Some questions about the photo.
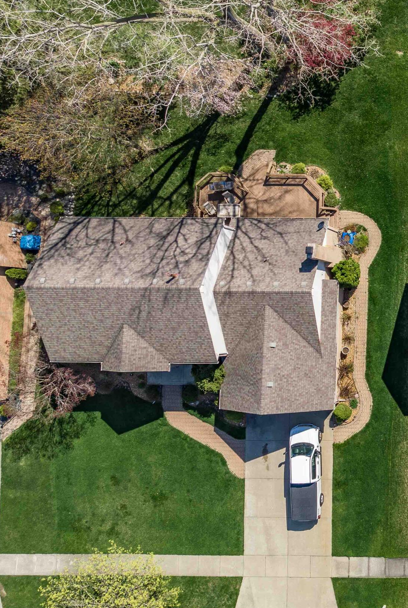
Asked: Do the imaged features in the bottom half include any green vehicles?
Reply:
No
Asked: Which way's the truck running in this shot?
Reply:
from top to bottom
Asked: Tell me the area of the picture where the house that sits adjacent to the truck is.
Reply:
center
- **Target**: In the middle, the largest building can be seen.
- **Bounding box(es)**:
[24,215,345,414]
